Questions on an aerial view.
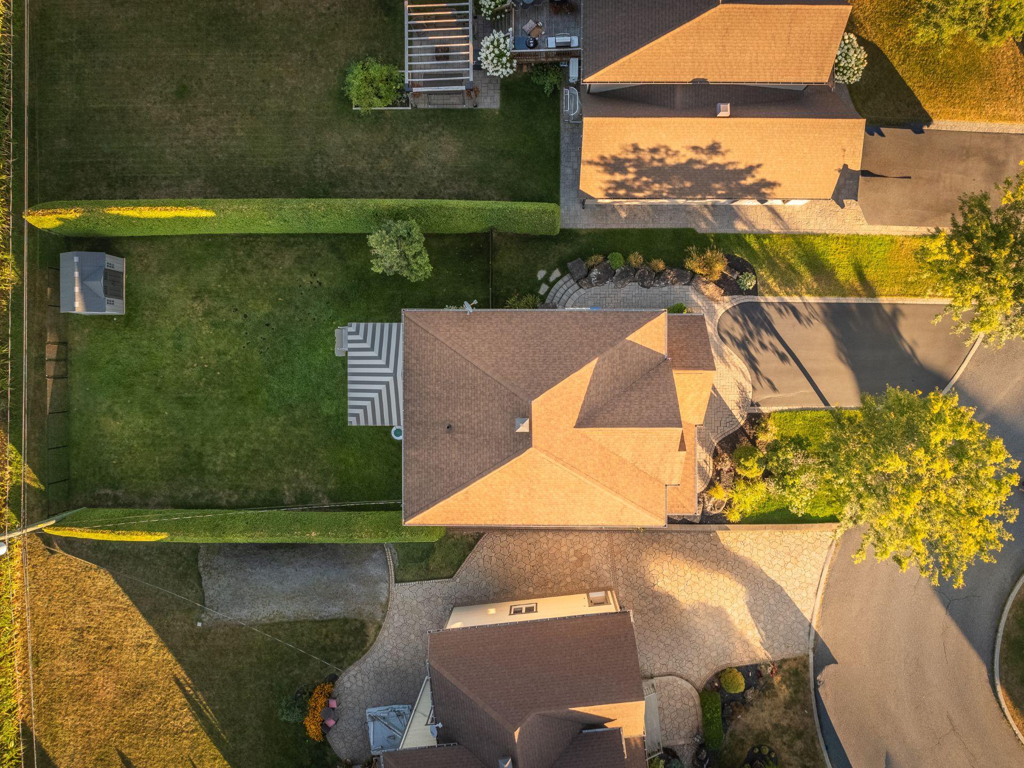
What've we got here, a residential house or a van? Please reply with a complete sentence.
This aerial view contains a residential house.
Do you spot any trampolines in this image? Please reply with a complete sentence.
No, the picture doesn't show any trampoline.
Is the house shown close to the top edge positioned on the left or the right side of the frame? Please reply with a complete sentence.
You can find the house shown close to the top edge on the right side of the picture.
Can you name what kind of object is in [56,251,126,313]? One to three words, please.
shed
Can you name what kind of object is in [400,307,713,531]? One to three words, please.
house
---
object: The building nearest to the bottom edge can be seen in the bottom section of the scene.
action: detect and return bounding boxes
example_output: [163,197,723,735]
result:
[379,589,650,768]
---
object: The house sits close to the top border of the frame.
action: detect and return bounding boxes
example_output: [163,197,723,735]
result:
[579,0,864,203]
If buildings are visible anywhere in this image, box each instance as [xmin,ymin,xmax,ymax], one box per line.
[400,307,713,531]
[56,251,126,313]
[579,0,864,203]
[379,589,650,768]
